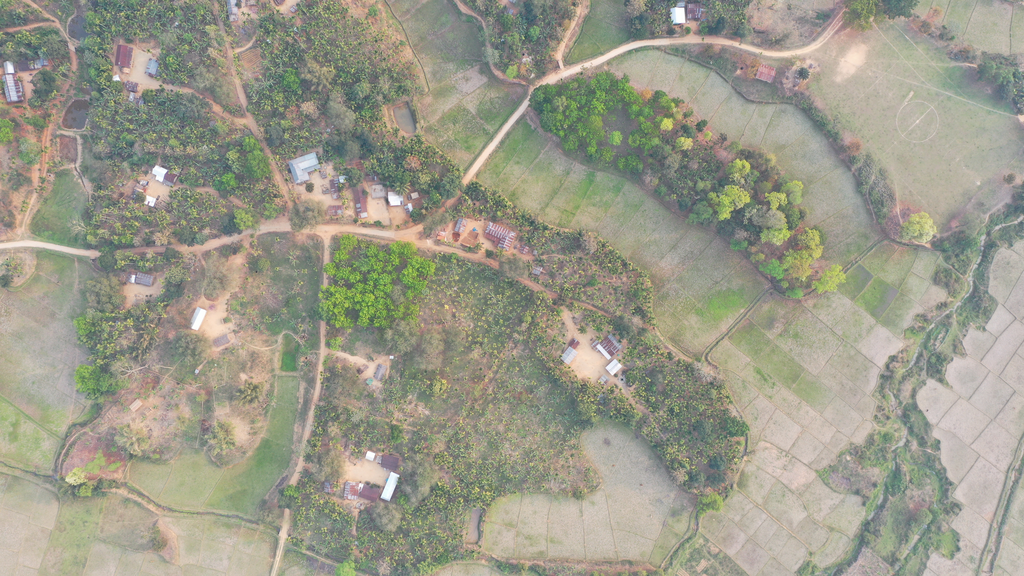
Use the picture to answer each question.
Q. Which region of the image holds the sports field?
top right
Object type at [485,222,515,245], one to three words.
house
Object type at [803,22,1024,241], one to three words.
sports field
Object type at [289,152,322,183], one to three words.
house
